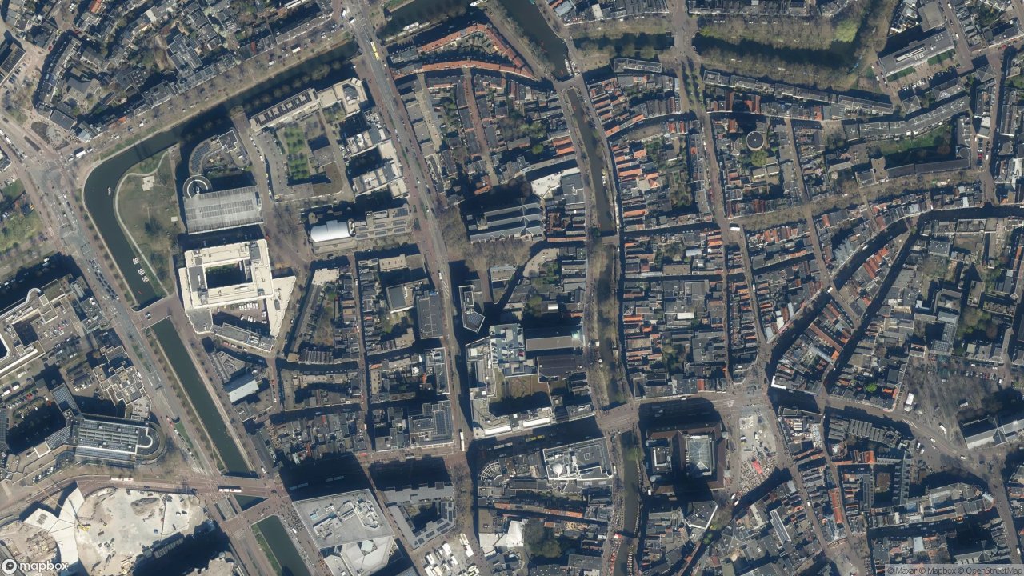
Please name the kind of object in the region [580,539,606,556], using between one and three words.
house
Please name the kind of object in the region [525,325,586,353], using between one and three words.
building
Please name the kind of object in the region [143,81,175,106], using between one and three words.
building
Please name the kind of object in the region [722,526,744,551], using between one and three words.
house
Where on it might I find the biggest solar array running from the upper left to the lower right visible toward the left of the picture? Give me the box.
[54,387,77,414]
